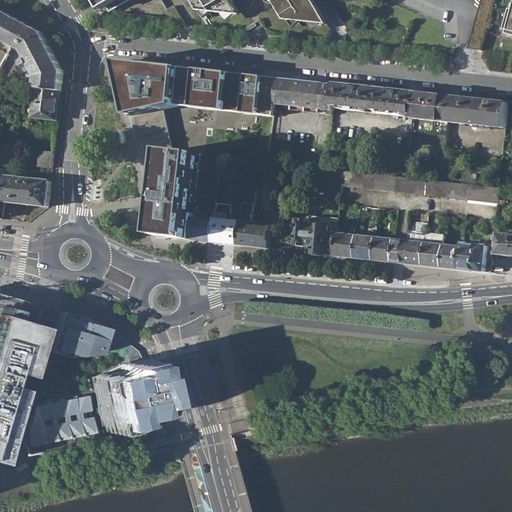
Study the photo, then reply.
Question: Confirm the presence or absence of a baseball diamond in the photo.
No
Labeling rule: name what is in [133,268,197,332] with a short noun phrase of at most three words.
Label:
roundabout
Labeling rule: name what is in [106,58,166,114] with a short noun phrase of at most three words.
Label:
building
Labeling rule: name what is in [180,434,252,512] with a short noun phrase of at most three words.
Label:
bridge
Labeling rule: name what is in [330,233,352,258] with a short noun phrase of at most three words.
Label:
house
